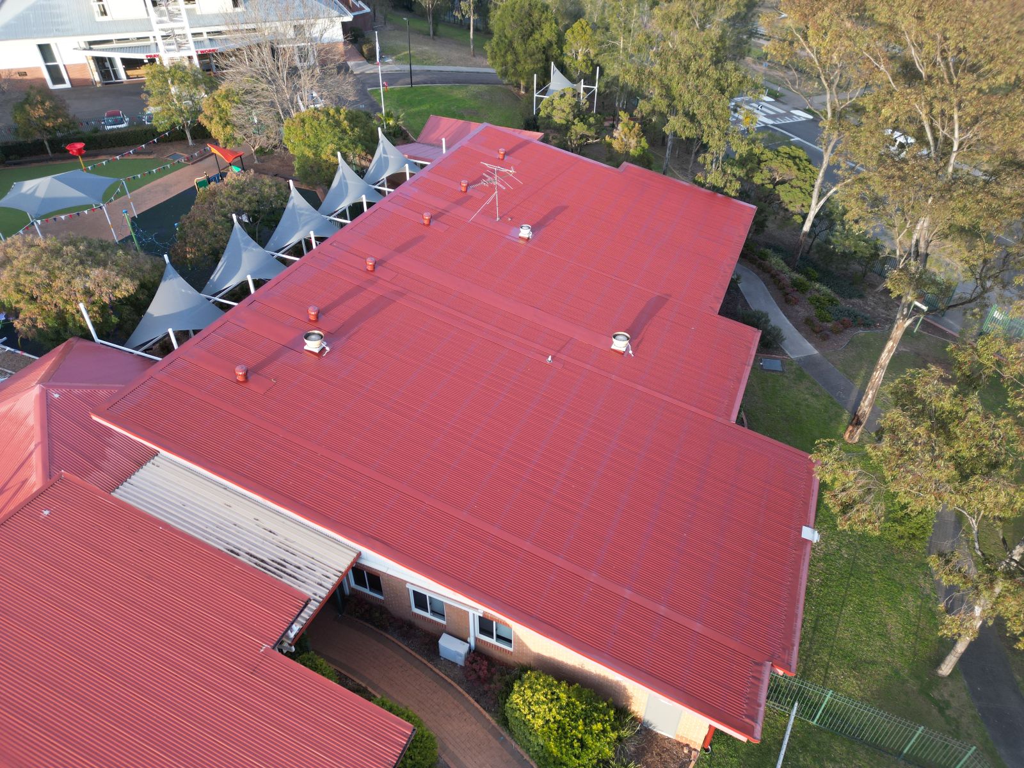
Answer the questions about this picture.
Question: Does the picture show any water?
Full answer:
No, no water is visible.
